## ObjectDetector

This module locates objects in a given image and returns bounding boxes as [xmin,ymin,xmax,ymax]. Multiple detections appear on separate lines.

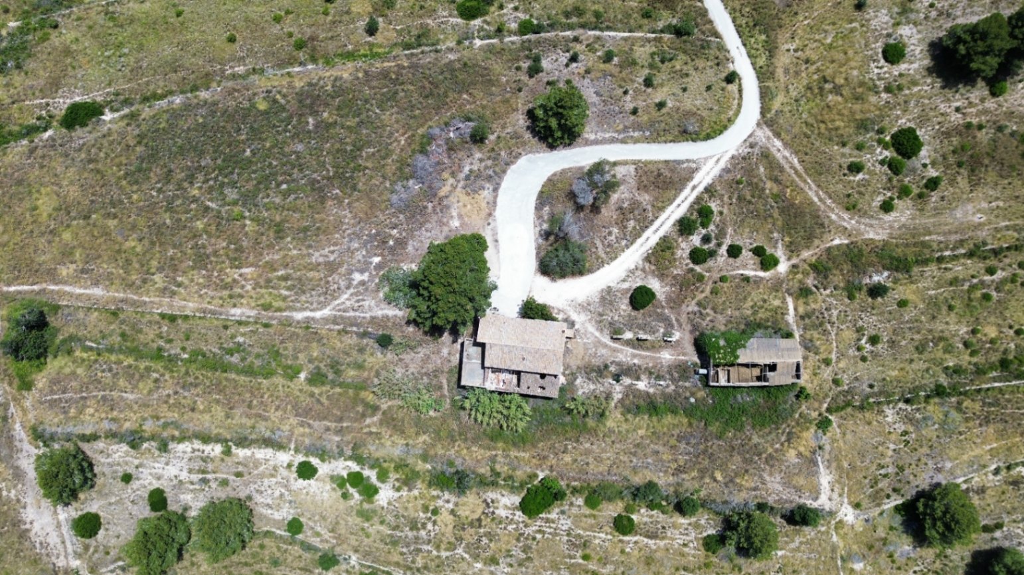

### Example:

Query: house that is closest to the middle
[461,318,574,399]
